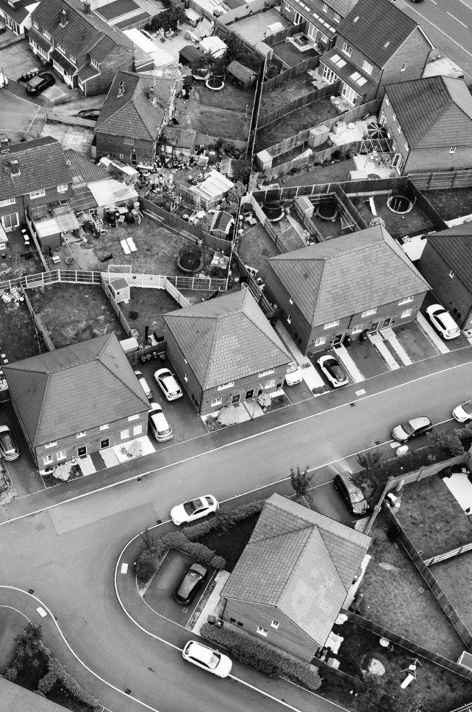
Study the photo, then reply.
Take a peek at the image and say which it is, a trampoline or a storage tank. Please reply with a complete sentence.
The one in the frame is a trampoline.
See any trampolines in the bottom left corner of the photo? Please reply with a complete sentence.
No, the scene shows no trampoline in the bottom left corner of the photo.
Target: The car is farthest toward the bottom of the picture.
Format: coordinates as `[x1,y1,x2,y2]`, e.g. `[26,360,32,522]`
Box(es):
[180,639,234,679]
